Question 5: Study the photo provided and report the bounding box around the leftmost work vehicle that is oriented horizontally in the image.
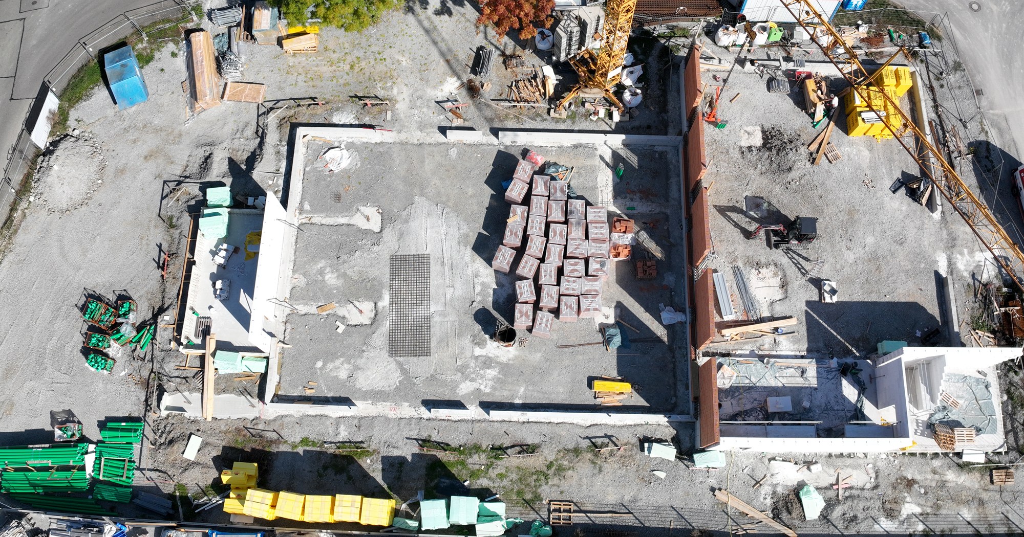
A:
[745,214,816,248]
